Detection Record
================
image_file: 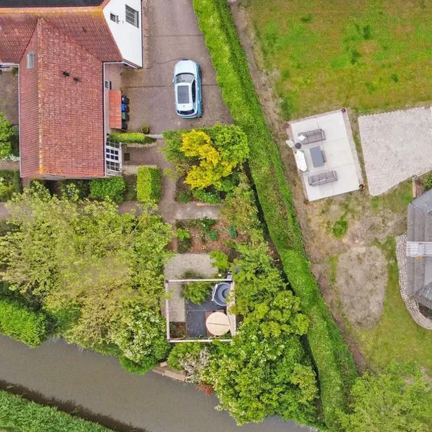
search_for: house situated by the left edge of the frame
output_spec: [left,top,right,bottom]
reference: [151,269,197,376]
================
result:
[0,0,143,178]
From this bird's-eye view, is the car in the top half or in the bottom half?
top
